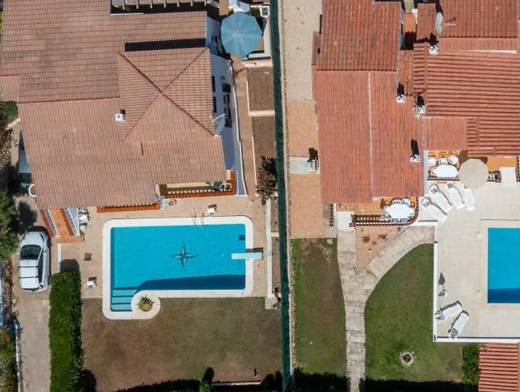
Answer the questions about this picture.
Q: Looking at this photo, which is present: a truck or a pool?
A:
pool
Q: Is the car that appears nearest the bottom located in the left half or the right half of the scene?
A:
left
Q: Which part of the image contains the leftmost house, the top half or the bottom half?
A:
top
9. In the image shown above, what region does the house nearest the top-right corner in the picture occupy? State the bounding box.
[311,0,520,231]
